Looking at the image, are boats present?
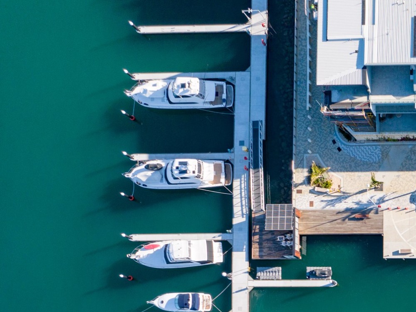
Yes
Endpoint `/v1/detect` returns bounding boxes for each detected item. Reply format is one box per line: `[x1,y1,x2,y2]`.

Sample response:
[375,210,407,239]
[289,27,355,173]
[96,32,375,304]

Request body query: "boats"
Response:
[127,239,228,267]
[142,283,231,312]
[313,269,335,277]
[124,77,235,114]
[123,159,233,202]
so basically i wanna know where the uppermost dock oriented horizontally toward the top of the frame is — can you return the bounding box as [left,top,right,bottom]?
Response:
[137,20,251,36]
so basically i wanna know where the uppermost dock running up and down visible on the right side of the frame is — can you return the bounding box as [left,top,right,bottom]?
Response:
[250,0,268,140]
